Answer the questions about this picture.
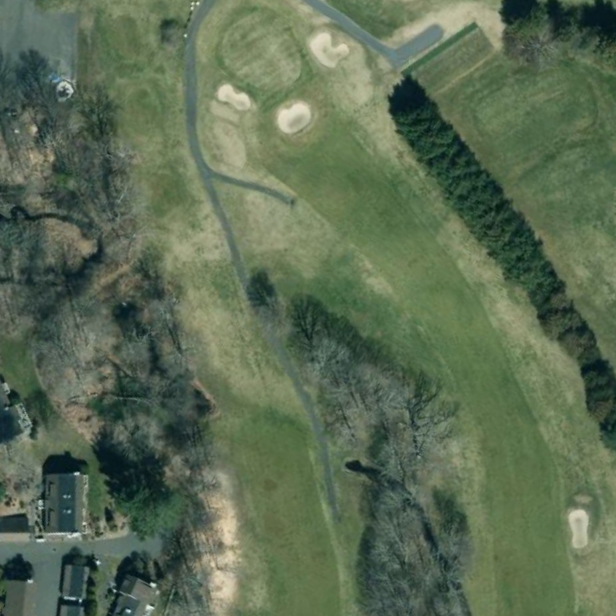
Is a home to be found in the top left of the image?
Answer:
No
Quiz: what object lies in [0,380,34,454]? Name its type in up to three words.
house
